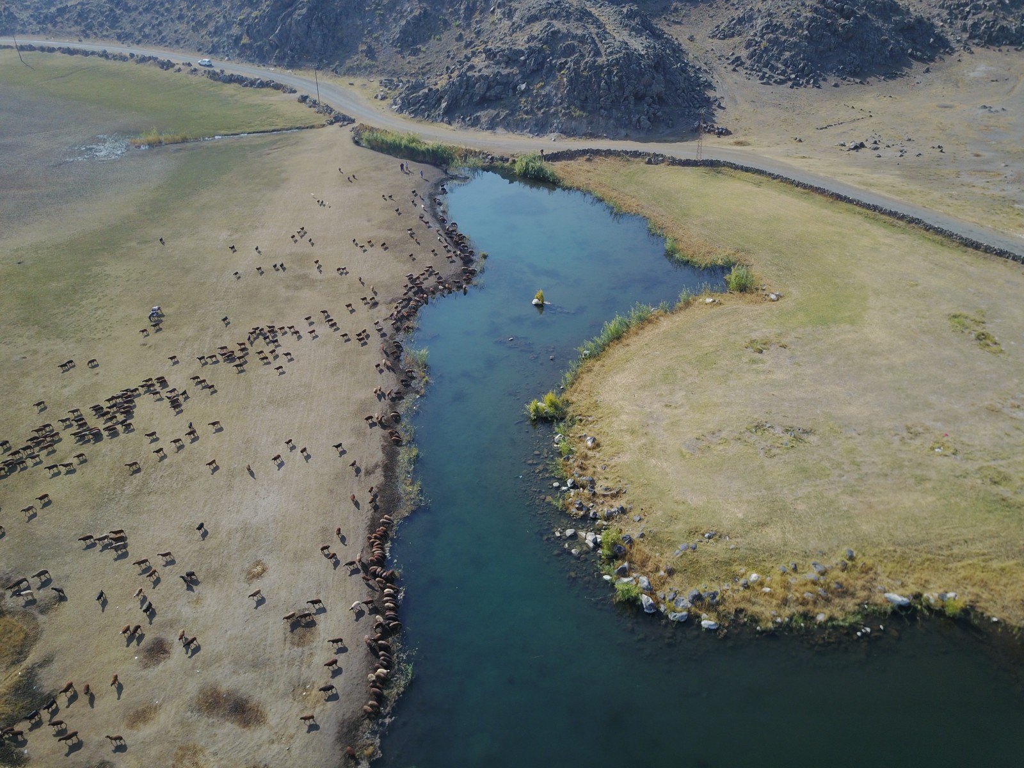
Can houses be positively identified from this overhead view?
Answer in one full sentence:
No, the frame has no house in it.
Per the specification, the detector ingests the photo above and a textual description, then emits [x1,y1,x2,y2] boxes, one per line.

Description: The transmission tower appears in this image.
[695,104,712,159]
